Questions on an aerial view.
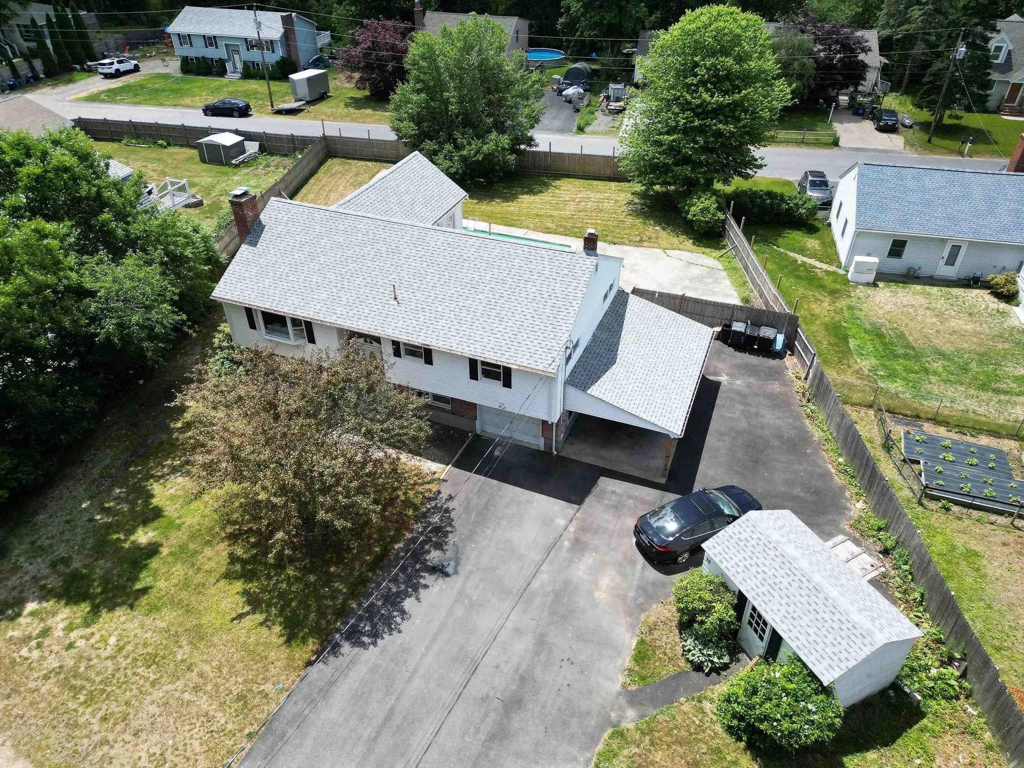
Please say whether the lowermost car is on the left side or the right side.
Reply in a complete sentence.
It is on the right.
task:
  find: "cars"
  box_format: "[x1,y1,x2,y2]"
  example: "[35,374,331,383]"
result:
[197,93,254,117]
[859,103,904,127]
[88,52,139,76]
[786,161,838,203]
[633,477,768,564]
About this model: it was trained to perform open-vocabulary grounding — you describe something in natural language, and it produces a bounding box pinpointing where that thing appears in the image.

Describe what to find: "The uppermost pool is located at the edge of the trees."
[519,47,564,71]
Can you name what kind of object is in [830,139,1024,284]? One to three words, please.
house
